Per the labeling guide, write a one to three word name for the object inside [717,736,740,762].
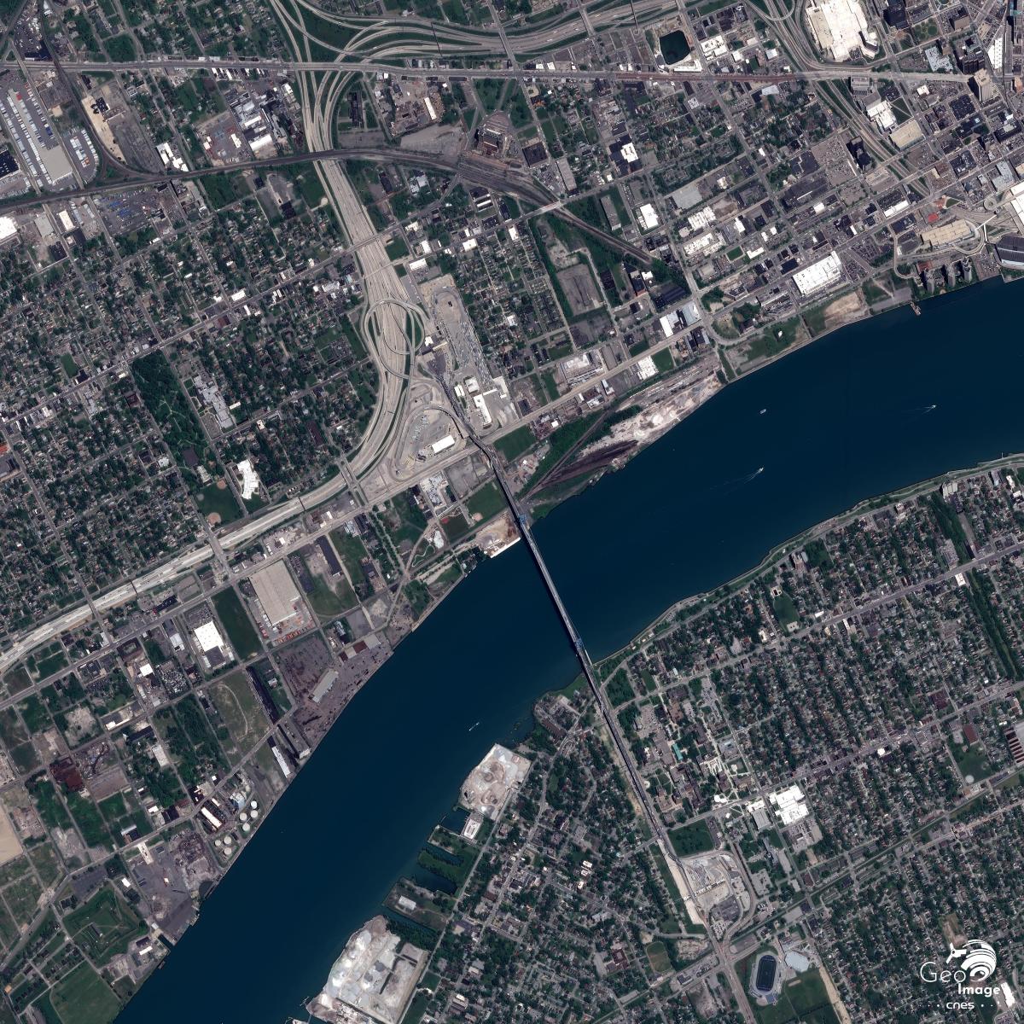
building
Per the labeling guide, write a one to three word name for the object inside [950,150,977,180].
building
